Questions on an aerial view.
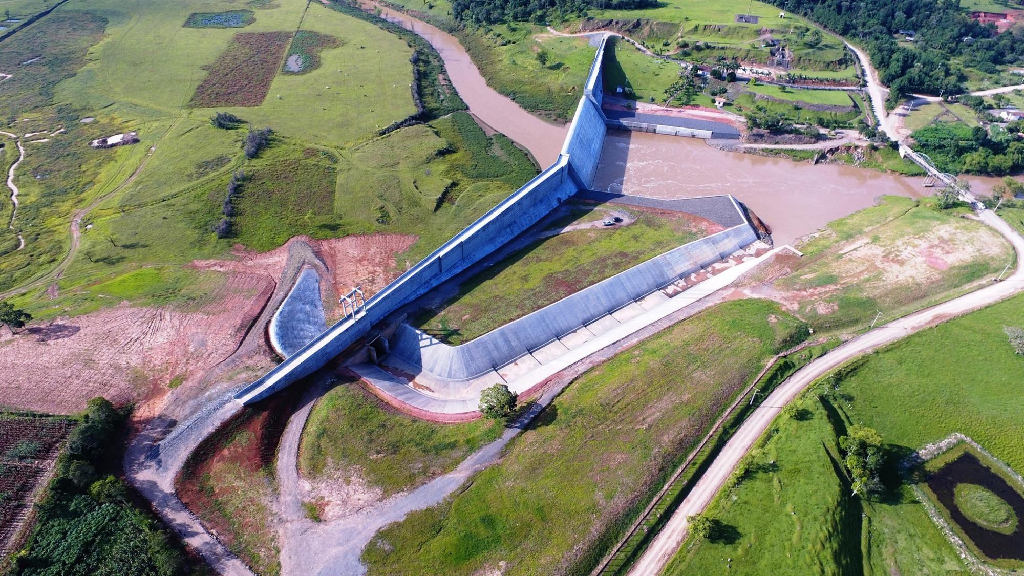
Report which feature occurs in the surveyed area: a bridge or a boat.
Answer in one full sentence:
The image shows a bridge.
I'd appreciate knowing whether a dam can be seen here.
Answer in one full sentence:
Yes, the picture does show a dam.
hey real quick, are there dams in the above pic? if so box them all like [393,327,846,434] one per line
[235,38,607,414]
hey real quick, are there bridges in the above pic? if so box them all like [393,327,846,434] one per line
[888,145,975,204]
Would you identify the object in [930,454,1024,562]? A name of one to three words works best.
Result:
pond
